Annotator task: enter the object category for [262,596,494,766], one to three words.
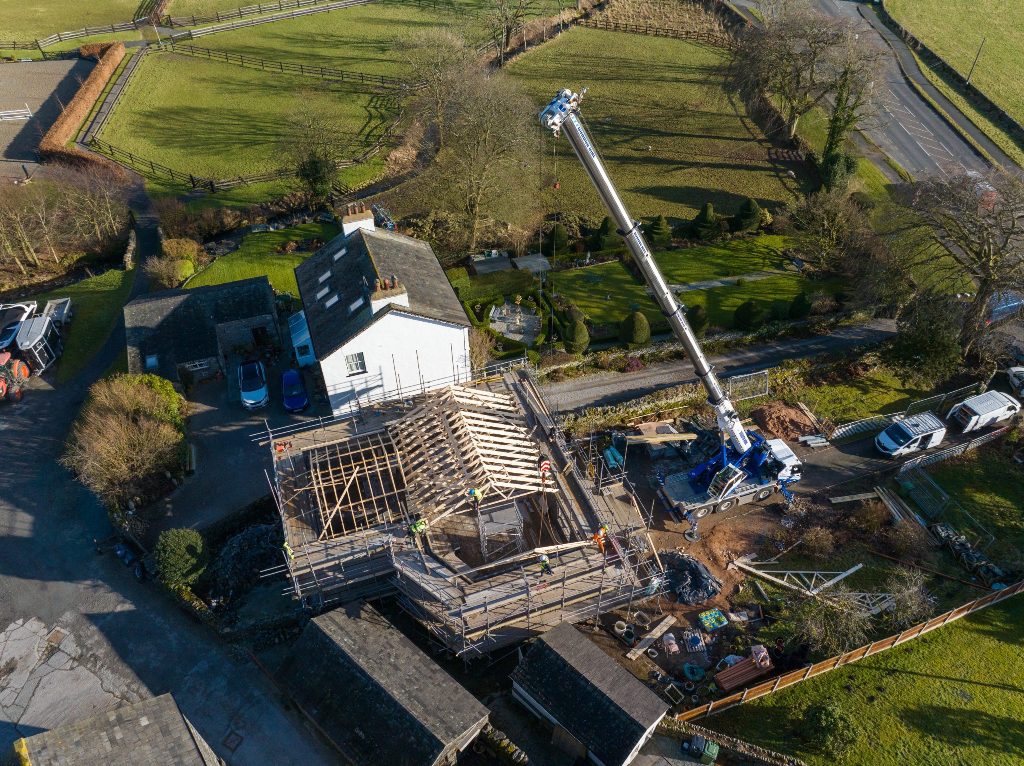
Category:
barn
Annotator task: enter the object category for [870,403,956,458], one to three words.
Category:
van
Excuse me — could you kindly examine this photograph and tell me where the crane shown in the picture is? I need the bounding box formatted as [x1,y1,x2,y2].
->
[535,73,812,542]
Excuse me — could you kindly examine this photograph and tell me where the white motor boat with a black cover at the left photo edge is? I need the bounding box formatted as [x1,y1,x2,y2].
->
[0,295,30,350]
